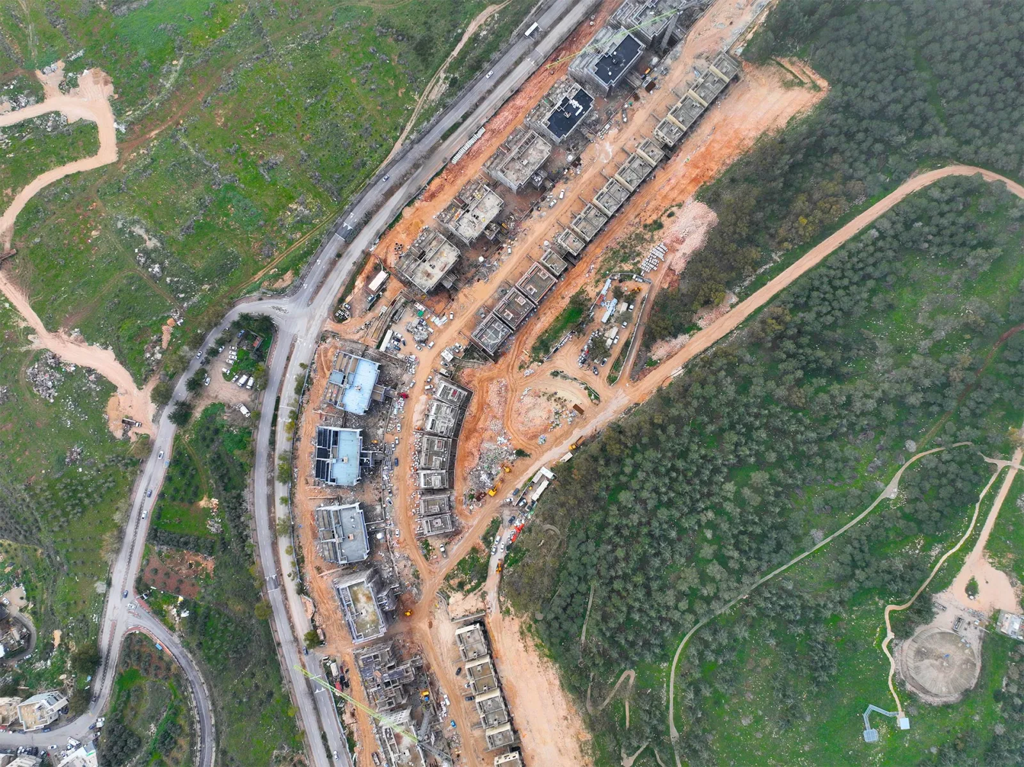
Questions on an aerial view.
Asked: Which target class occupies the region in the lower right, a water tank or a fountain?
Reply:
water tank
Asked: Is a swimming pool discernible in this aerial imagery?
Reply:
No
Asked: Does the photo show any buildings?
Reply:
Yes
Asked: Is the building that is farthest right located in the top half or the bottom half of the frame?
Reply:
bottom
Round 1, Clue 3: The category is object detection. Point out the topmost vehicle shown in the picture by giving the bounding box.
[525,21,539,37]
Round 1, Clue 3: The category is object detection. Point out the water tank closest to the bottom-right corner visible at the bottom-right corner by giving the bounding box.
[907,629,975,696]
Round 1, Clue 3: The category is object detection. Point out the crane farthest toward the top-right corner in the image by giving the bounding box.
[547,0,705,68]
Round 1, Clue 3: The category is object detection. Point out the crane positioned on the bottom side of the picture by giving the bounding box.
[294,665,453,762]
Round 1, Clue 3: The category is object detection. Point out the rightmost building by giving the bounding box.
[994,610,1024,638]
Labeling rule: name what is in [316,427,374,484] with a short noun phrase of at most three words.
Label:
building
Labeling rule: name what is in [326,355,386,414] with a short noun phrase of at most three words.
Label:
building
